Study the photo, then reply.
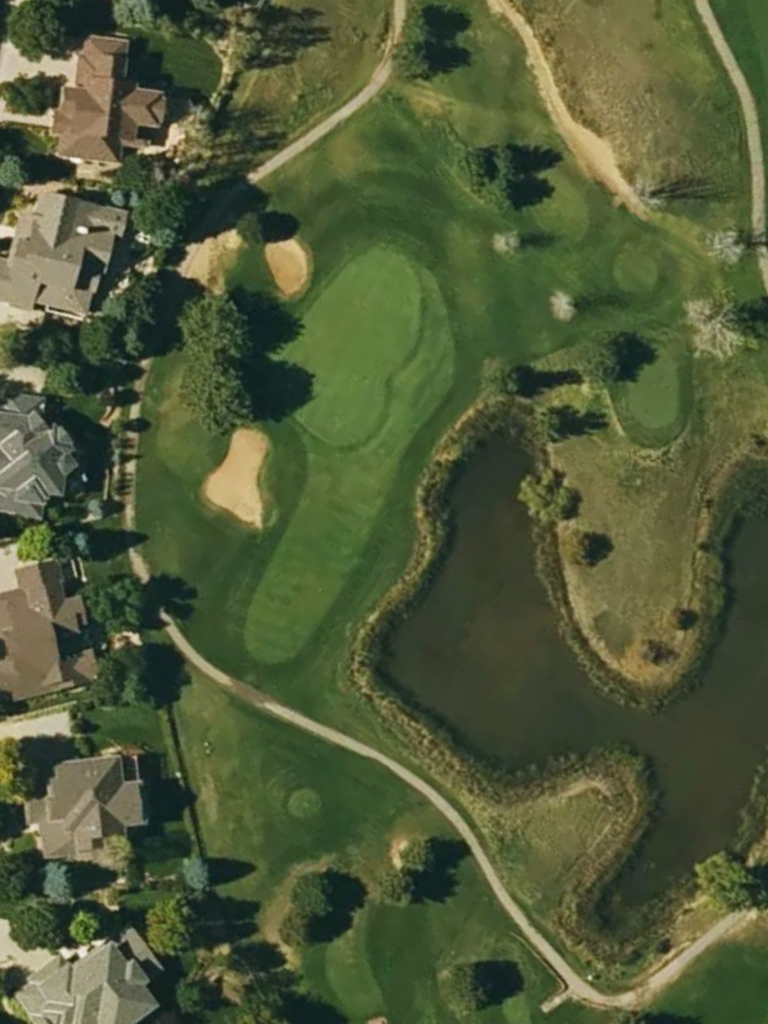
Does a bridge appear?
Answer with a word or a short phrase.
No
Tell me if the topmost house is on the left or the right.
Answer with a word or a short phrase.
left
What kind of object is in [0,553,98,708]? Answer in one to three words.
house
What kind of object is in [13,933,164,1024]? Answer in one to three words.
house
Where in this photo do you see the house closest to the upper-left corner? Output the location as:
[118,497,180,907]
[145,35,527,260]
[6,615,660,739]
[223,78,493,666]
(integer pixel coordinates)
[52,33,166,167]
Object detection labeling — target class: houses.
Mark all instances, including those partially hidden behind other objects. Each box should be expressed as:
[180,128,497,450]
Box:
[0,185,130,314]
[13,933,164,1024]
[52,33,166,167]
[0,389,83,526]
[0,553,98,708]
[27,756,153,876]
